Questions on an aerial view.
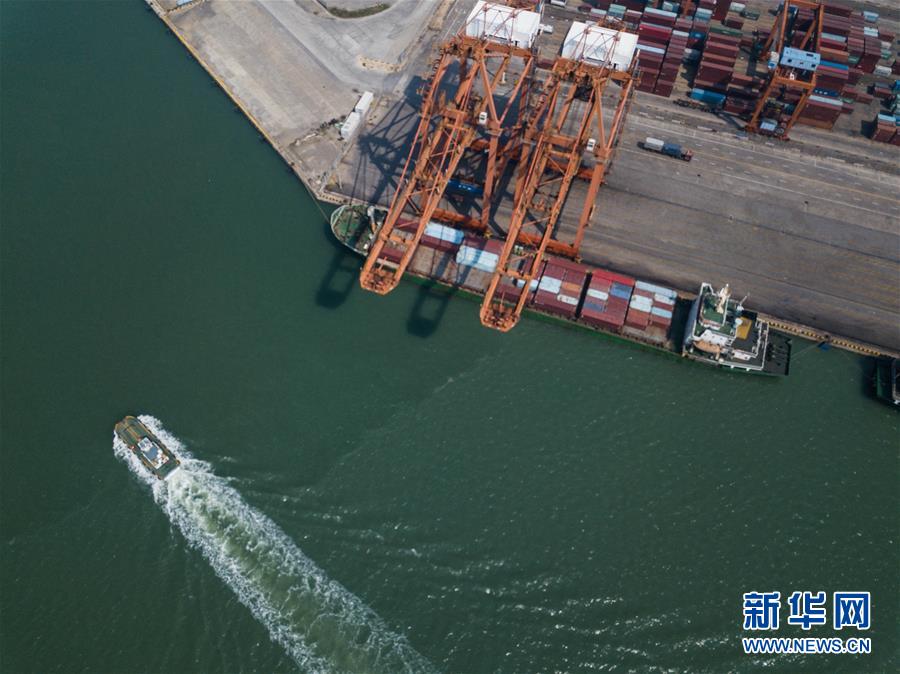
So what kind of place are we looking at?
port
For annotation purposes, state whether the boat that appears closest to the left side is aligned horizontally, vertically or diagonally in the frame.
diagonally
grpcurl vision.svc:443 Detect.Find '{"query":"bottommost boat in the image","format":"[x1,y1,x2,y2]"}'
[113,416,180,480]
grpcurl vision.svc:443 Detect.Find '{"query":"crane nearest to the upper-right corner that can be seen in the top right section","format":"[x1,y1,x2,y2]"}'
[748,0,829,138]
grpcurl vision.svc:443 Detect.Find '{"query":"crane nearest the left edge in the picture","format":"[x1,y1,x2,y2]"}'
[368,0,546,292]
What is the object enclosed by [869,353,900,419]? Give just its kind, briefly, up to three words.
ship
